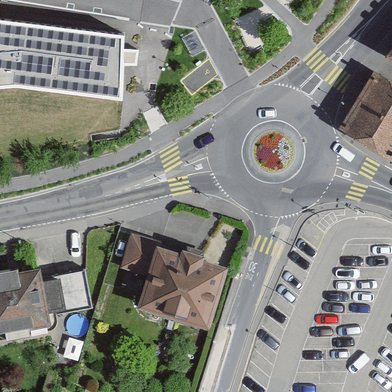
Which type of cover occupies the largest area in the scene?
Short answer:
paved ground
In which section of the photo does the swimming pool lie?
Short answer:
bottom left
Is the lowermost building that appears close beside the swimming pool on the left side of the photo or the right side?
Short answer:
left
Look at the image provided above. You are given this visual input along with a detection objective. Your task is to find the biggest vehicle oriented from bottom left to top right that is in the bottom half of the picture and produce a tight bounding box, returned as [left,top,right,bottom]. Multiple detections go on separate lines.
[347,350,372,375]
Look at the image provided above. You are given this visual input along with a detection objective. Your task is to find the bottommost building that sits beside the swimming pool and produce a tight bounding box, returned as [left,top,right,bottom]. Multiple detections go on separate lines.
[64,338,84,361]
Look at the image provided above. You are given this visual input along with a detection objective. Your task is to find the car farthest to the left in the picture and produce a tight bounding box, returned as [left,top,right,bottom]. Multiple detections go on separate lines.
[69,232,82,258]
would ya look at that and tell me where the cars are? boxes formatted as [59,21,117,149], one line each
[296,238,318,258]
[329,349,350,360]
[334,280,356,292]
[370,370,392,390]
[256,108,278,119]
[332,337,356,348]
[339,256,364,268]
[336,268,360,280]
[316,314,339,326]
[374,358,392,378]
[69,232,82,258]
[322,302,345,314]
[324,290,348,302]
[309,326,334,338]
[366,256,390,268]
[294,382,316,392]
[264,303,288,324]
[372,245,392,256]
[242,375,266,392]
[280,270,302,290]
[193,131,216,149]
[378,346,392,364]
[287,250,311,272]
[257,328,280,350]
[276,284,298,304]
[348,302,372,314]
[116,238,128,258]
[352,291,374,303]
[337,326,362,338]
[358,280,378,292]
